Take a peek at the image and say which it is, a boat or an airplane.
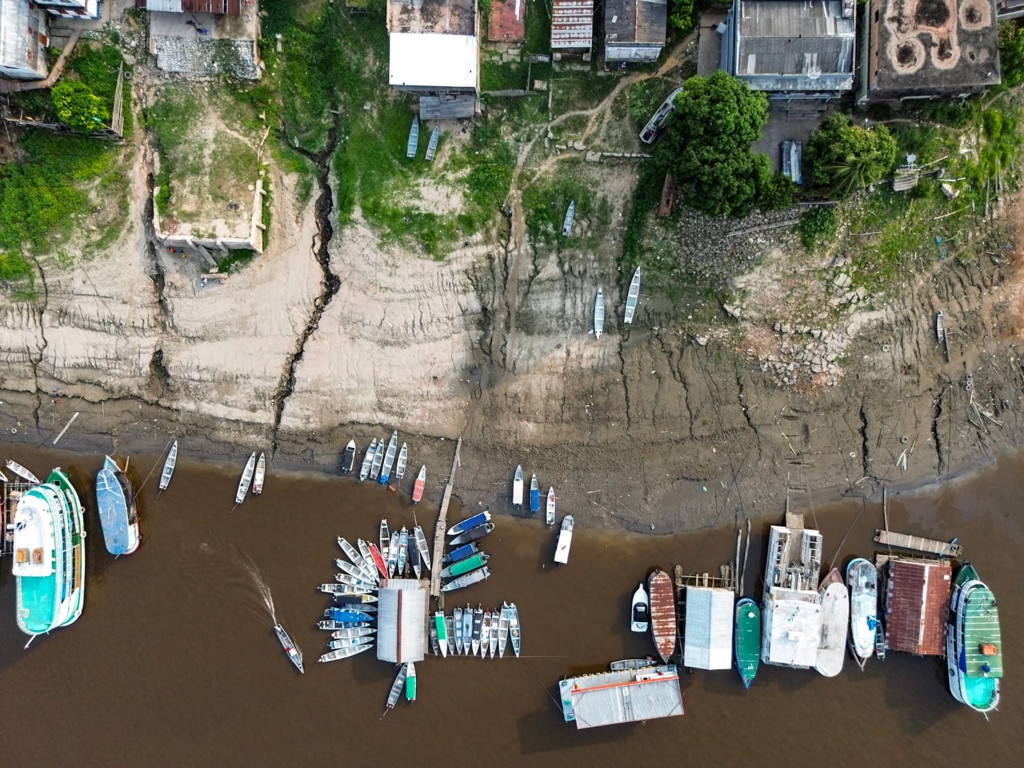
boat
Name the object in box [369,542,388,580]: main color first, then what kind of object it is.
red boat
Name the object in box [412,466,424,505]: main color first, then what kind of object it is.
red boat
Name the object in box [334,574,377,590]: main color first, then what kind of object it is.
white boat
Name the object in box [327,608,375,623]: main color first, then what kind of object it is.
blue boat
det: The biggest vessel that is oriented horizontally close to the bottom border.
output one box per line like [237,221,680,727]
[558,663,685,730]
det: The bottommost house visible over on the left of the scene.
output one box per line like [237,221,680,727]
[376,579,425,662]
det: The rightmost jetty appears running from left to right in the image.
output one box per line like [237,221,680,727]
[873,529,961,558]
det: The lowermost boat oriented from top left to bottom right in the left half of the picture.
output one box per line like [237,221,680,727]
[272,621,304,673]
